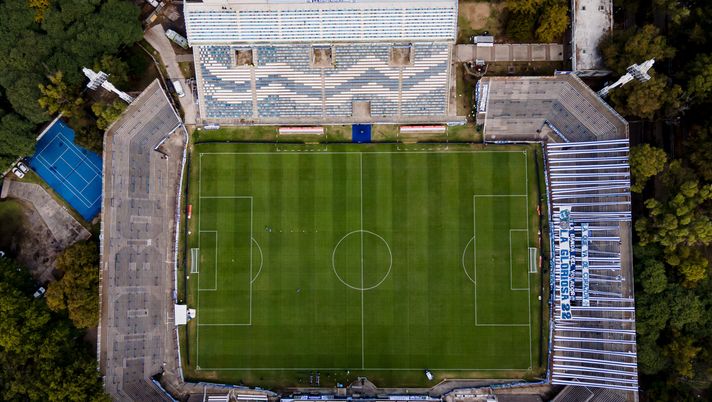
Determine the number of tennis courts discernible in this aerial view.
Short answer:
1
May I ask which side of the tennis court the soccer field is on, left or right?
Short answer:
on the right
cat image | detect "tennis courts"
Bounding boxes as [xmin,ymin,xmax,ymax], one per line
[22,115,102,225]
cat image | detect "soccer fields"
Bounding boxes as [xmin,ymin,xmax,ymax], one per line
[195,127,534,373]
